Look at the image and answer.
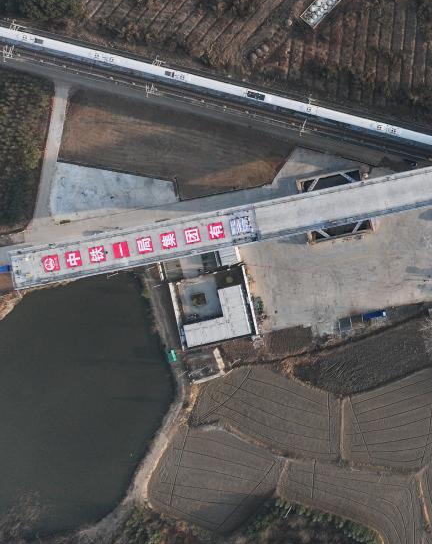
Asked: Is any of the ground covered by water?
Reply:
Yes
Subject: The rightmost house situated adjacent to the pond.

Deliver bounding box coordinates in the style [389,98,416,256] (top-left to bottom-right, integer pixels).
[184,284,254,347]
